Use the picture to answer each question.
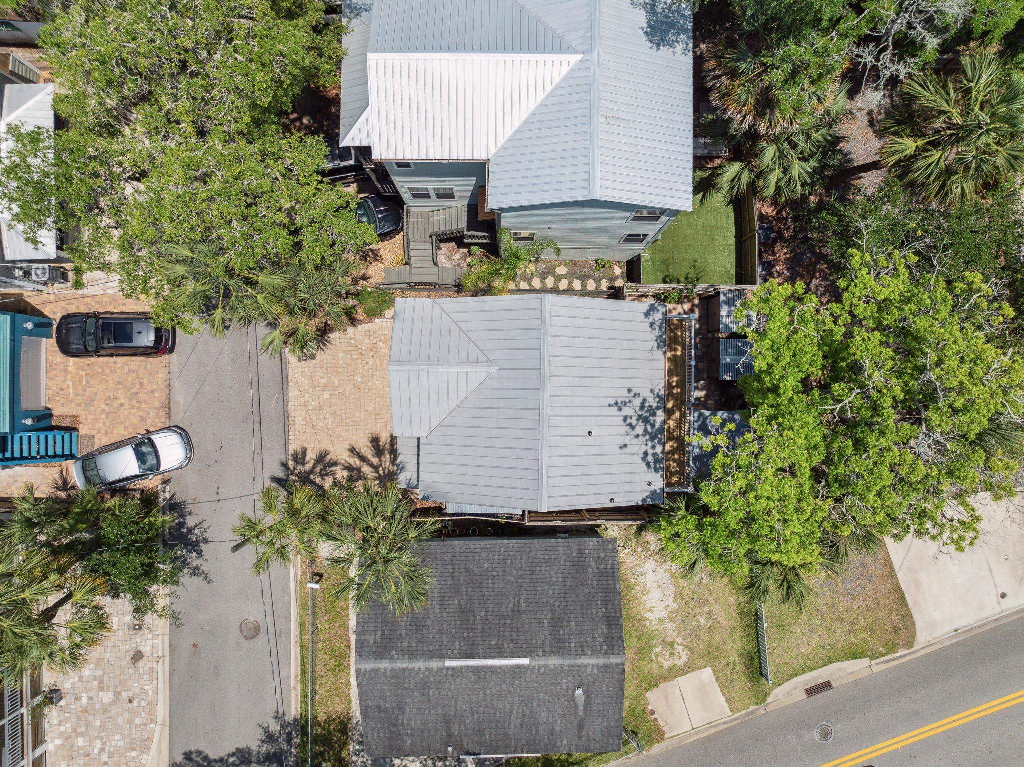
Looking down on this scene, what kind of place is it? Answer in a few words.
residential area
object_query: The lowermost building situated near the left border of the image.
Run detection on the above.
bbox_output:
[0,314,53,434]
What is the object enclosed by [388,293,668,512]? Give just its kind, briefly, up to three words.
house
